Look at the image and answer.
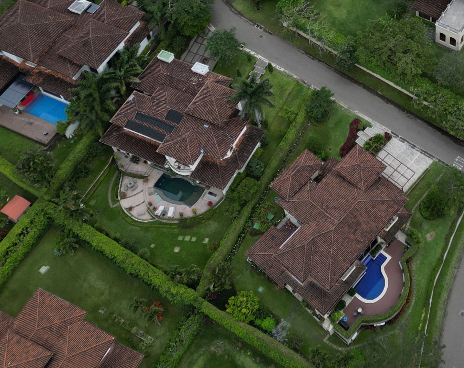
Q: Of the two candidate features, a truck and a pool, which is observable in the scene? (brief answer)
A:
pool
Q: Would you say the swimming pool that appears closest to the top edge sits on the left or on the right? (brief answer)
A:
left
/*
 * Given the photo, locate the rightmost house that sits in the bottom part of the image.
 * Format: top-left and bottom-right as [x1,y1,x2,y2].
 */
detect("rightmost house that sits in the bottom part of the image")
[245,144,413,319]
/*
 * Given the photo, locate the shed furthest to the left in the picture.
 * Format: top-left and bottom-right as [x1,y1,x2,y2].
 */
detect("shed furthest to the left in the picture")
[0,195,31,223]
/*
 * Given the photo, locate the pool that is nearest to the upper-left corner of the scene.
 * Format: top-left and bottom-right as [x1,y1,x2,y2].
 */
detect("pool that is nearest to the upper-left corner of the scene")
[20,92,62,128]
